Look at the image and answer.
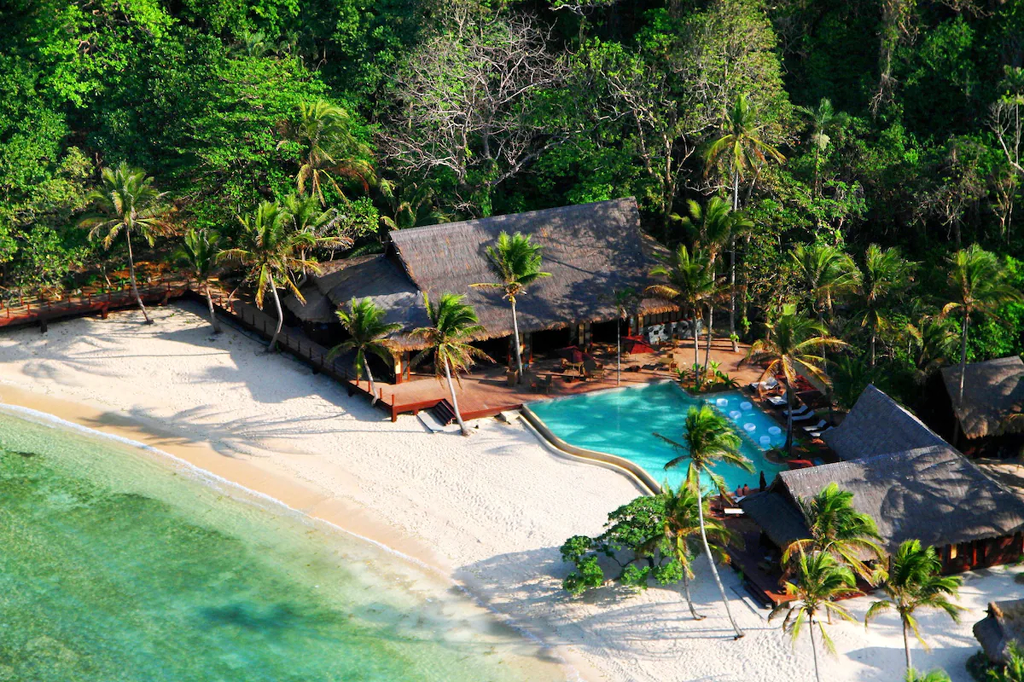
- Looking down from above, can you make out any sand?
Yes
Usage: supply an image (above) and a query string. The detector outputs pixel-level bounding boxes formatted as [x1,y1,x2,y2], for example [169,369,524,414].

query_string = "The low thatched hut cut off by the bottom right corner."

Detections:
[967,593,1024,664]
